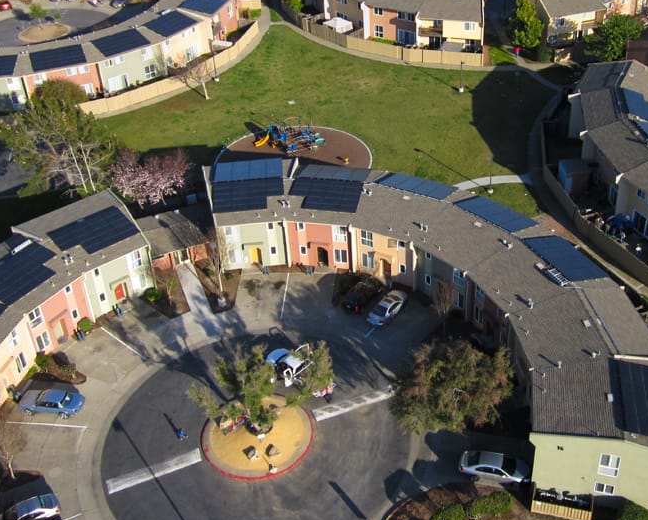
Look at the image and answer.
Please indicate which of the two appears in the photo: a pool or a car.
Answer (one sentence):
There is a car in the scene.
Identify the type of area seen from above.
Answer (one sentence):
This looks like a residential area.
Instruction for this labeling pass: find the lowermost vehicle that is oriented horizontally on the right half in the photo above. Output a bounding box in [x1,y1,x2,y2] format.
[459,452,529,489]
